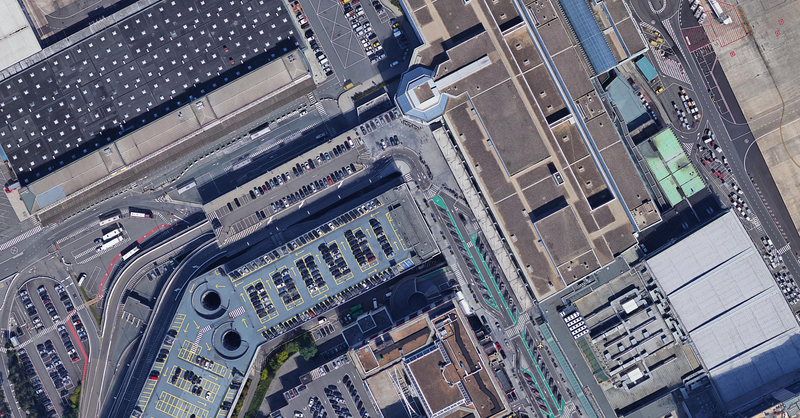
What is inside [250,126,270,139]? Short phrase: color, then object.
white vehicle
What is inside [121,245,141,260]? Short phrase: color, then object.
white vehicle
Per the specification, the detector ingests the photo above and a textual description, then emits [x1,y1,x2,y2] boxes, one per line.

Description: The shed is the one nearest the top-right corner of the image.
[634,55,658,81]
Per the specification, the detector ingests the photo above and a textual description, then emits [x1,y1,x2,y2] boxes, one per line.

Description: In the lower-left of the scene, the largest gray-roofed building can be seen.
[123,296,151,319]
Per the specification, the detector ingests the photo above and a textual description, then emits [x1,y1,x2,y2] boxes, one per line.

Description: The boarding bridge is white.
[710,0,736,30]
